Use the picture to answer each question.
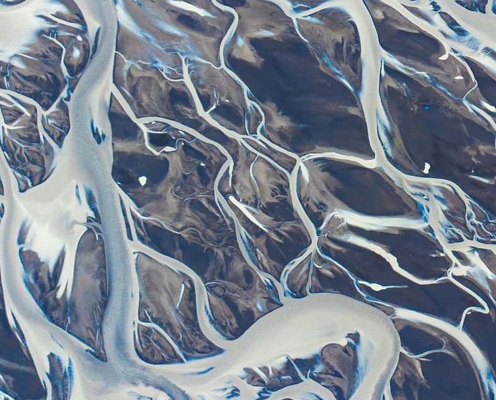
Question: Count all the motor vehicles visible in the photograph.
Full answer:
There are no motor vehicles in this view.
